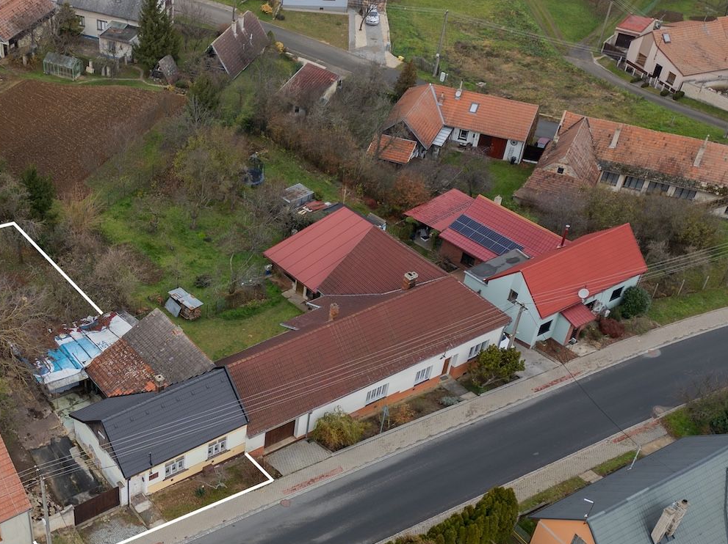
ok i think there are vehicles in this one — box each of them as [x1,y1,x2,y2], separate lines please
[537,130,555,147]
[366,6,381,21]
